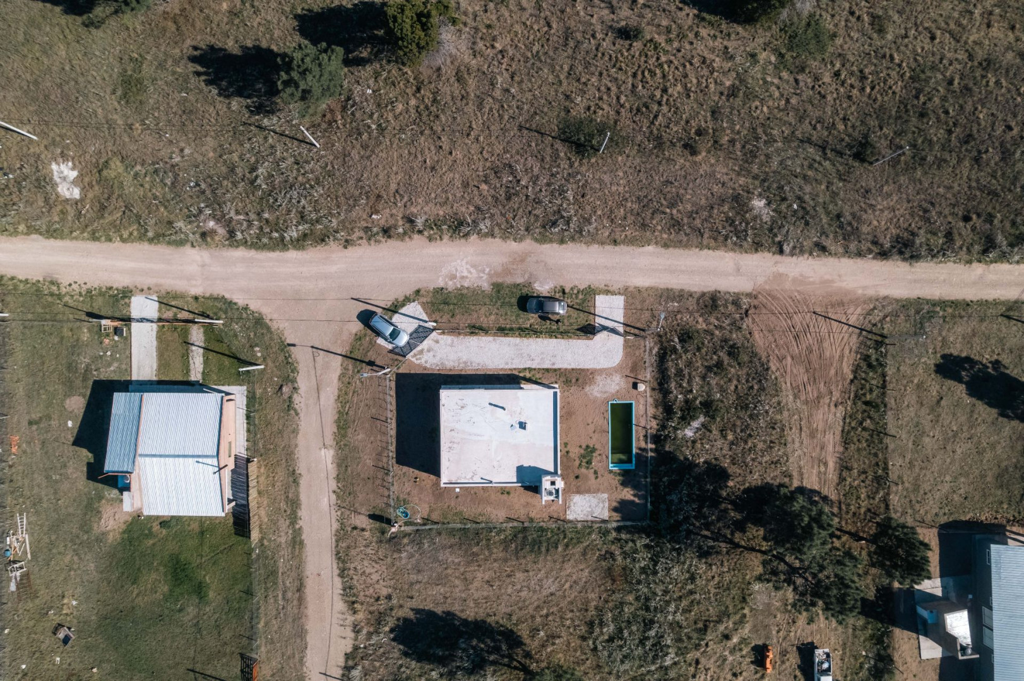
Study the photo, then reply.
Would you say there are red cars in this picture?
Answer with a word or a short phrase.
No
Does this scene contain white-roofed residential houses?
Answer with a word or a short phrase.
Yes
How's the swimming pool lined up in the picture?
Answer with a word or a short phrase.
from top to bottom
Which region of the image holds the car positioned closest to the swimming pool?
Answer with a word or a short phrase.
center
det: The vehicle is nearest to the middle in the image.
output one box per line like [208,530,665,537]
[527,294,568,316]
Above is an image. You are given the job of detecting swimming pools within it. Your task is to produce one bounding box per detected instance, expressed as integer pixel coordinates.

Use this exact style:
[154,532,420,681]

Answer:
[608,397,635,470]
